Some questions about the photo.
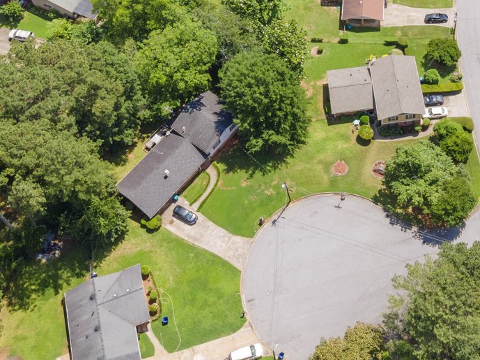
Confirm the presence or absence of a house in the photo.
Yes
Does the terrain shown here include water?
No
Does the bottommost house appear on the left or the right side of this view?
left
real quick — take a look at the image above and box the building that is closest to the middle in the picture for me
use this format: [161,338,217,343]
[113,99,239,219]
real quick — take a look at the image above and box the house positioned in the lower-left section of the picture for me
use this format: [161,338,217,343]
[64,262,150,360]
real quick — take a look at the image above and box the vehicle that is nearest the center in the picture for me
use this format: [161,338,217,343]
[170,201,200,227]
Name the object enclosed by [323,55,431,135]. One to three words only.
house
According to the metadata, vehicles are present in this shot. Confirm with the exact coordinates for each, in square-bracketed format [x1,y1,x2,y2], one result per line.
[170,201,200,227]
[426,94,446,106]
[222,340,267,360]
[9,29,36,41]
[424,13,448,24]
[426,107,448,120]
